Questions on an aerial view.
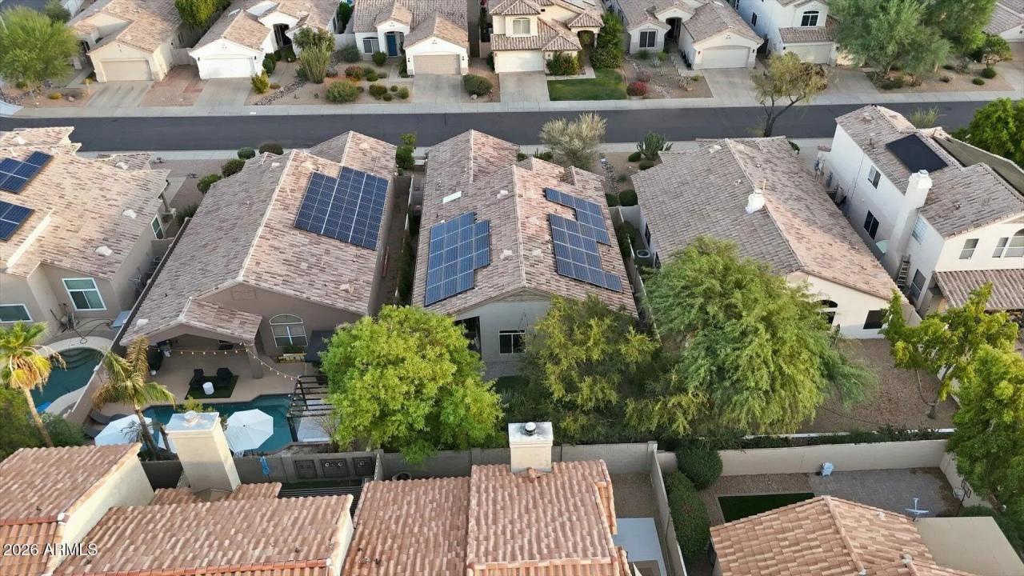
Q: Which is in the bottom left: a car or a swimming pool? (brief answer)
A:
swimming pool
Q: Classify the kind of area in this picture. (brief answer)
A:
residential area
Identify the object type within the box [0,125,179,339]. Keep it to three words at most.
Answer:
house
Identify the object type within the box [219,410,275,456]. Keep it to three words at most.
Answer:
umbrella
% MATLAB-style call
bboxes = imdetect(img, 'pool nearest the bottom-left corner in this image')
[0,345,102,427]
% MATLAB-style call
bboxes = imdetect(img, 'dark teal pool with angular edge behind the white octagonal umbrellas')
[133,391,303,456]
